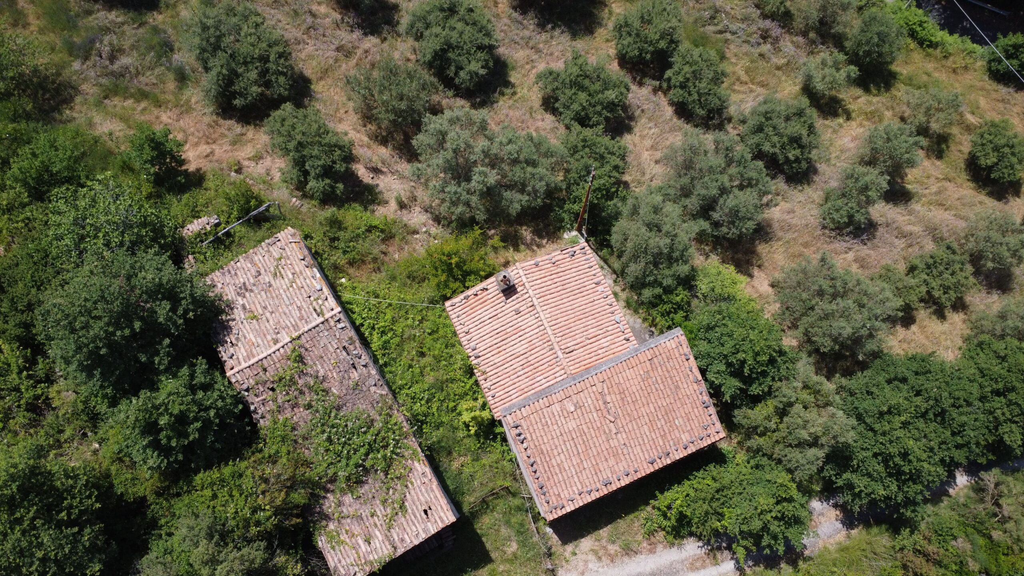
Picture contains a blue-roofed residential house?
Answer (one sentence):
No, no blue-roofed residential house can be seen from above.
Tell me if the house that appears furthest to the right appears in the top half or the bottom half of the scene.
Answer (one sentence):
You can find the house that appears furthest to the right in the bottom half.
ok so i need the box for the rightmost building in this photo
[442,240,728,525]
